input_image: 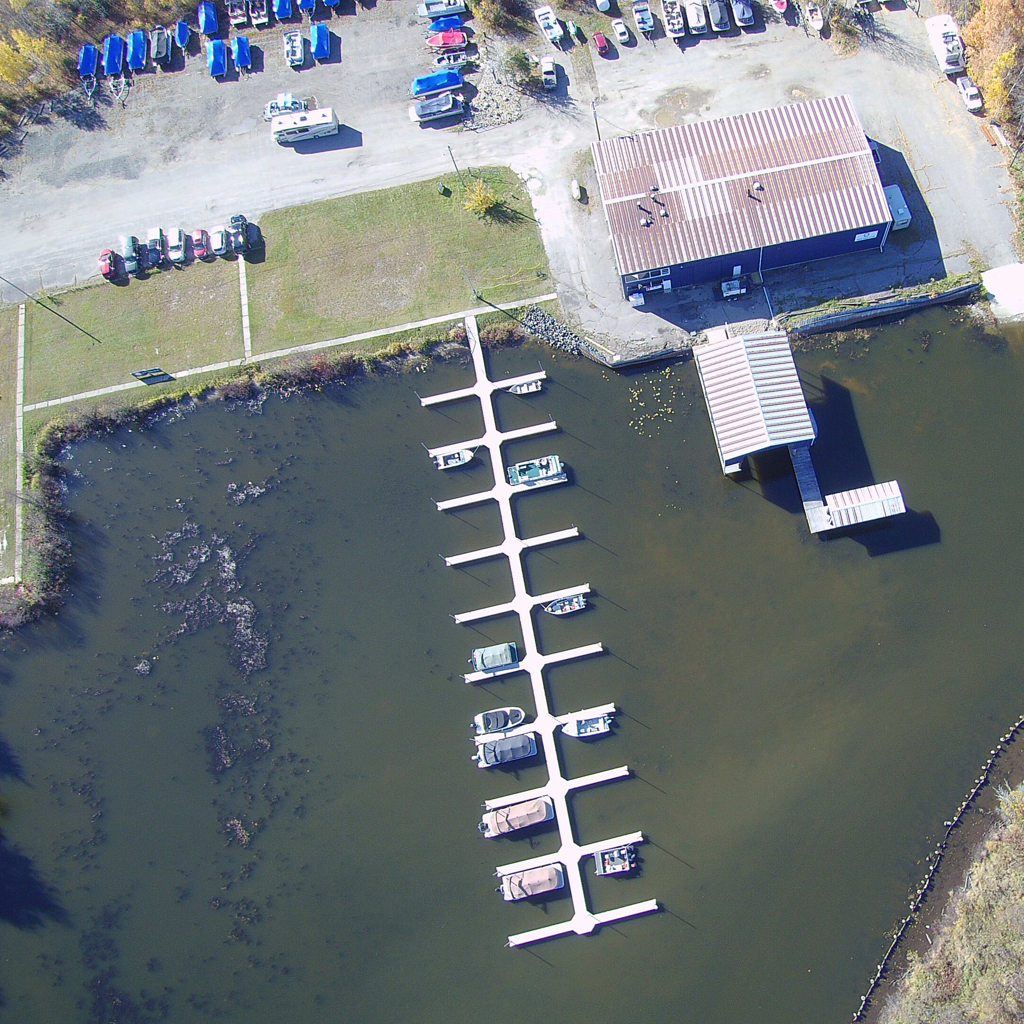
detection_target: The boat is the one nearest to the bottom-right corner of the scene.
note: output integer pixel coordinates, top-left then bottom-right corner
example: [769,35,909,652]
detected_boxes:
[596,846,632,876]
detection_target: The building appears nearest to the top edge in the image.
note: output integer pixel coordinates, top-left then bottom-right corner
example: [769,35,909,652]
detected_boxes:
[590,95,891,299]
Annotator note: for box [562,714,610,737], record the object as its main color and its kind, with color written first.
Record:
white boat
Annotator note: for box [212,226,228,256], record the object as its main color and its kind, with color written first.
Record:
white car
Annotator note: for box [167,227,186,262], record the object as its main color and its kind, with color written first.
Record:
white car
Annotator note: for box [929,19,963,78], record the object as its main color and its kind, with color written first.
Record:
white boat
